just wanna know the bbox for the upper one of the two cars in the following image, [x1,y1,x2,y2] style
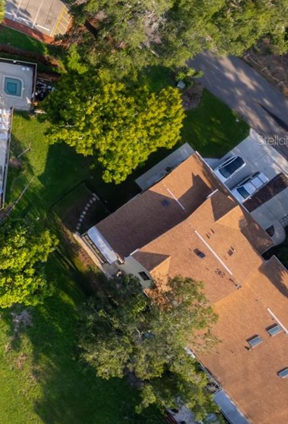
[214,152,252,183]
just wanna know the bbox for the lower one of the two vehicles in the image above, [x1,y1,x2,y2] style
[235,171,274,204]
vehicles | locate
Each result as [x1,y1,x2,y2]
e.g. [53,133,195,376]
[214,152,252,183]
[235,171,274,204]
